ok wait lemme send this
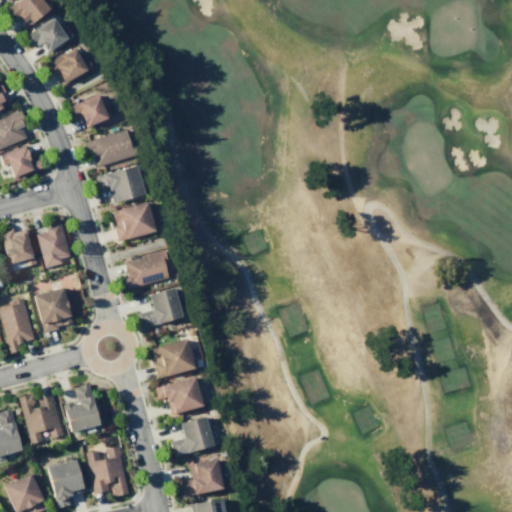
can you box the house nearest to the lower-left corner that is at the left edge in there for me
[6,476,44,512]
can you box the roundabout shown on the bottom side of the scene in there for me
[82,320,138,376]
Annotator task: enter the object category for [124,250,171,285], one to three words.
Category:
house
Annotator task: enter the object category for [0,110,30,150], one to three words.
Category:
house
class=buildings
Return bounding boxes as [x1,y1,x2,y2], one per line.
[83,130,138,166]
[198,498,228,512]
[36,225,70,267]
[2,228,36,264]
[72,96,111,128]
[50,49,89,83]
[156,376,206,416]
[66,383,101,432]
[36,288,74,332]
[124,250,171,285]
[2,144,44,180]
[14,0,51,24]
[186,458,226,495]
[0,300,32,354]
[96,165,143,202]
[0,408,20,455]
[171,419,215,455]
[6,476,44,512]
[48,460,84,508]
[112,202,158,240]
[152,340,198,378]
[32,18,70,52]
[86,448,129,496]
[20,394,66,446]
[139,289,184,325]
[0,110,30,150]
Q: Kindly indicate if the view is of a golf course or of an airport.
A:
golf course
